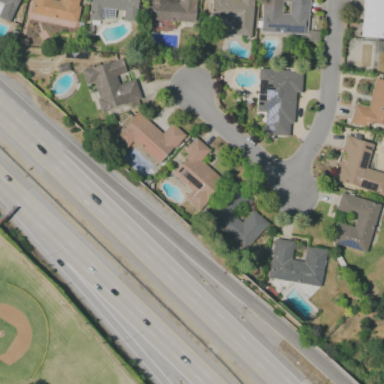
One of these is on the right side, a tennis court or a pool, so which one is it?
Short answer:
pool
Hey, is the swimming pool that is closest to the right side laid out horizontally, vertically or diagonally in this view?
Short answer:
diagonally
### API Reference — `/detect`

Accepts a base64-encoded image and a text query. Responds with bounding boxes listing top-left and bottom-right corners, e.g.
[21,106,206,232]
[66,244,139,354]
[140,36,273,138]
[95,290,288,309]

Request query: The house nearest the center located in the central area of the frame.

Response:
[173,138,223,212]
